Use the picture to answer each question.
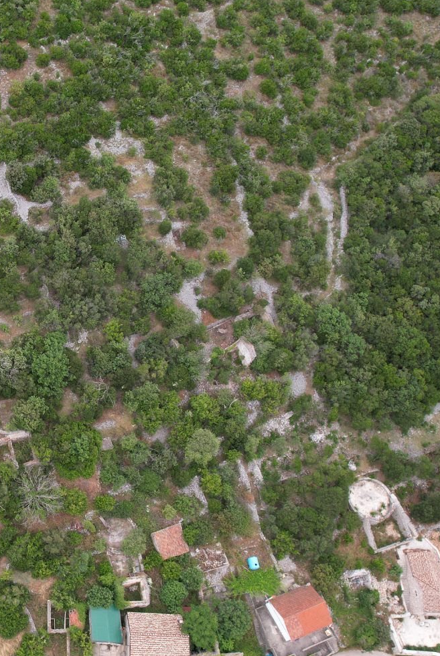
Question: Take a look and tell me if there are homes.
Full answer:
Yes, the picture does show a home.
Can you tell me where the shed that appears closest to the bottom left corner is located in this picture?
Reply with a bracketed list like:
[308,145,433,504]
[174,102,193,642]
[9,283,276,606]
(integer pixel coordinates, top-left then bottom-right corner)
[46,601,84,635]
